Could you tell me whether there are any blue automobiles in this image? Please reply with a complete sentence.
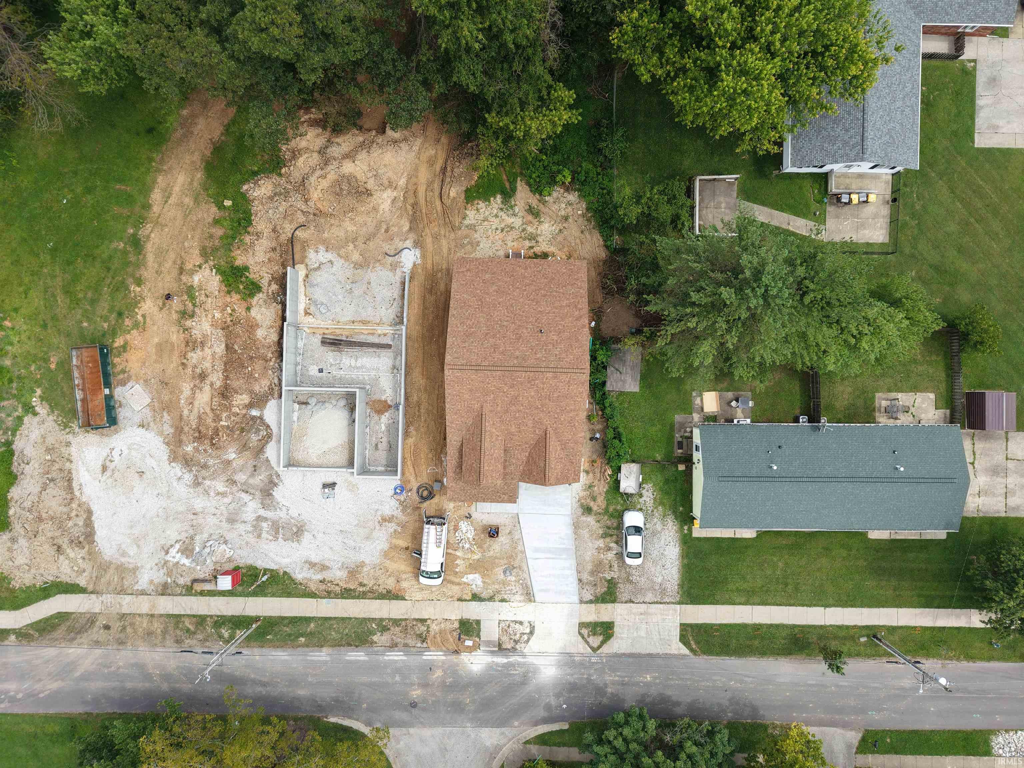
No, I can see no blue automobile in this picture.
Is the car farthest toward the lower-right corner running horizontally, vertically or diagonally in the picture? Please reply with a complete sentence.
In this picture, the car farthest toward the lower-right corner lies vertically.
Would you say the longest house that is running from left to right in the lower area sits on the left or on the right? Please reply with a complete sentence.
The longest house that is running from left to right in the lower area sits on the right side.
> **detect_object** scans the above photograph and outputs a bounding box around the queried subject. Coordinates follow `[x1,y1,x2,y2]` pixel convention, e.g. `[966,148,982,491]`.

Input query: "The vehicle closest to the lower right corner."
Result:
[621,508,647,566]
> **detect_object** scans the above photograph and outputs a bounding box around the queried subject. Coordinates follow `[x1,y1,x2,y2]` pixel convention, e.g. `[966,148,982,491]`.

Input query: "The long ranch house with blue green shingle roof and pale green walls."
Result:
[687,422,971,533]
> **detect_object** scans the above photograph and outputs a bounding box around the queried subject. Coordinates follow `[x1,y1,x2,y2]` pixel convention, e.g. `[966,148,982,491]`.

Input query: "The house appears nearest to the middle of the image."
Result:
[444,248,589,504]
